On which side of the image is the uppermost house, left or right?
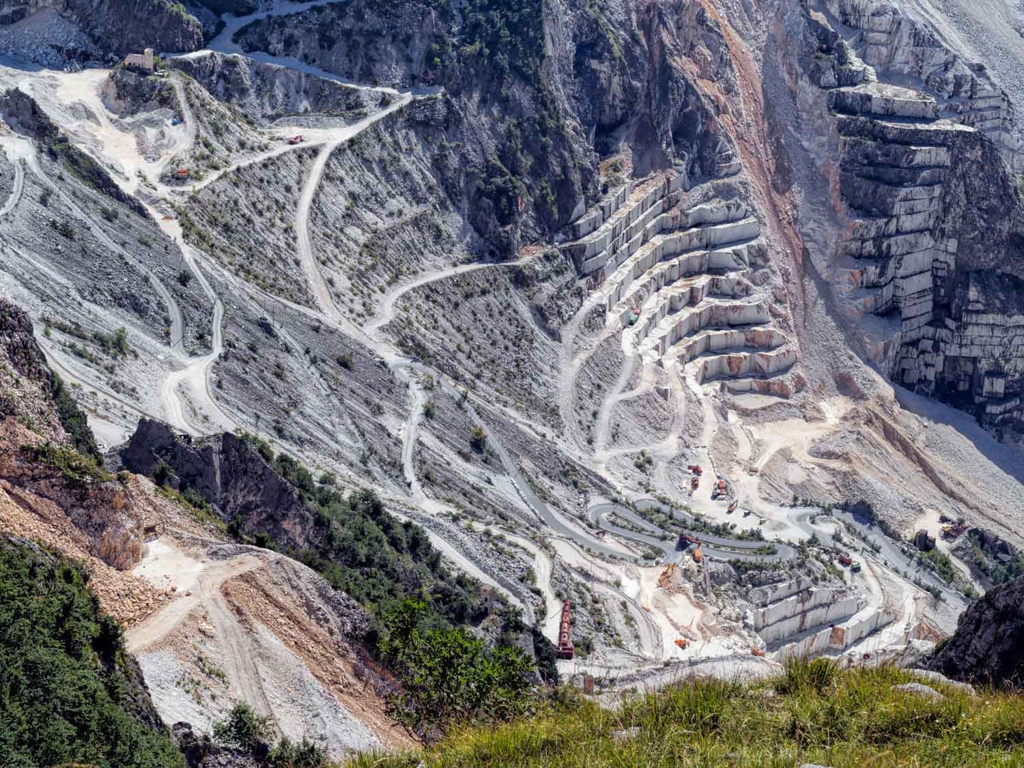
left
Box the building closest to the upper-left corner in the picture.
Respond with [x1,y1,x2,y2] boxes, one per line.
[126,48,161,74]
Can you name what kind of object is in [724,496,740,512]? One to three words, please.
work vehicle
